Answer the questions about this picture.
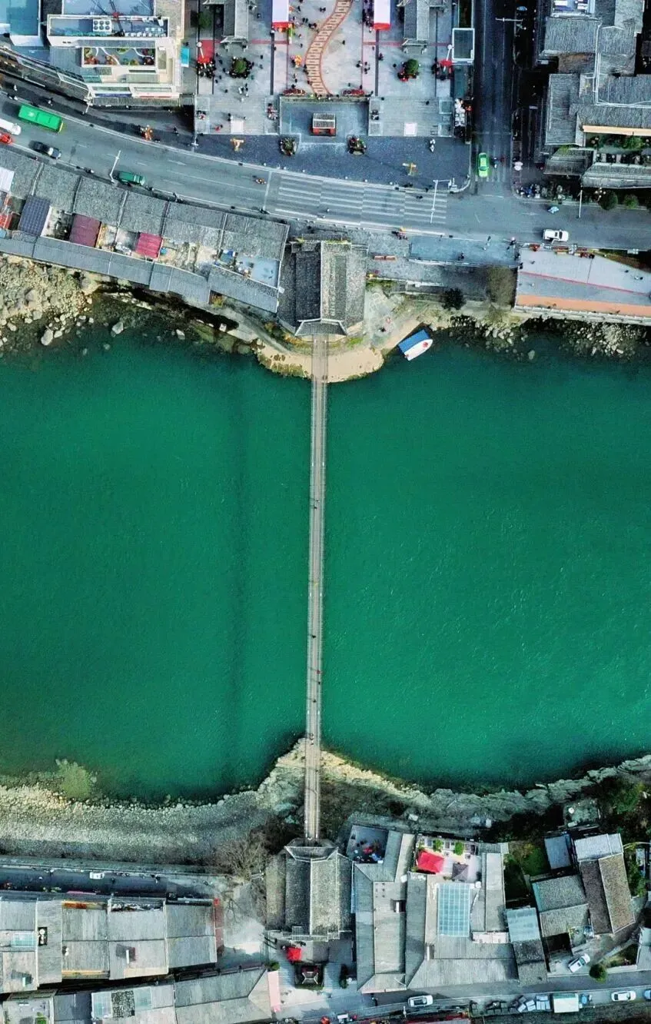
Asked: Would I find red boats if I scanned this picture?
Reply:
No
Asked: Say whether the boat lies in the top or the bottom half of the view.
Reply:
top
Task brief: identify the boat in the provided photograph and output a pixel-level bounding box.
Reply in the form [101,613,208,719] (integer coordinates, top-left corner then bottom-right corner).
[399,330,434,362]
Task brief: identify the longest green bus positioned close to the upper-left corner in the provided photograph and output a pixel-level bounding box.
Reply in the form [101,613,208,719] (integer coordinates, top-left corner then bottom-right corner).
[15,101,64,129]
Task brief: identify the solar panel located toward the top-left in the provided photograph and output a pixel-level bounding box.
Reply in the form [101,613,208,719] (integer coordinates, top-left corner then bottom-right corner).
[18,197,50,236]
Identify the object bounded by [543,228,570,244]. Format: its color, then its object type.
white car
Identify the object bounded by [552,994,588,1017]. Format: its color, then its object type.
white truck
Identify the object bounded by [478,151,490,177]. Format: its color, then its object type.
green vehicle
